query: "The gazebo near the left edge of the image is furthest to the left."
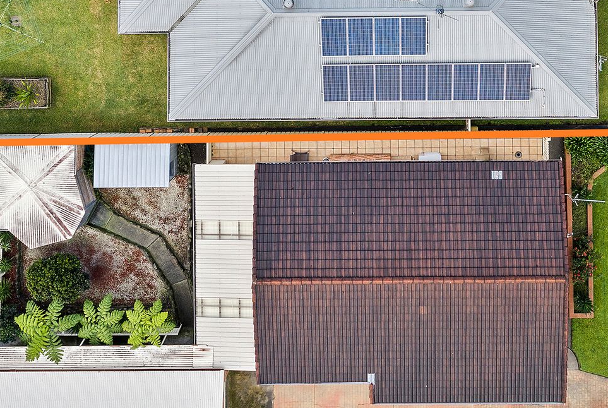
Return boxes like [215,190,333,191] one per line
[0,143,96,247]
